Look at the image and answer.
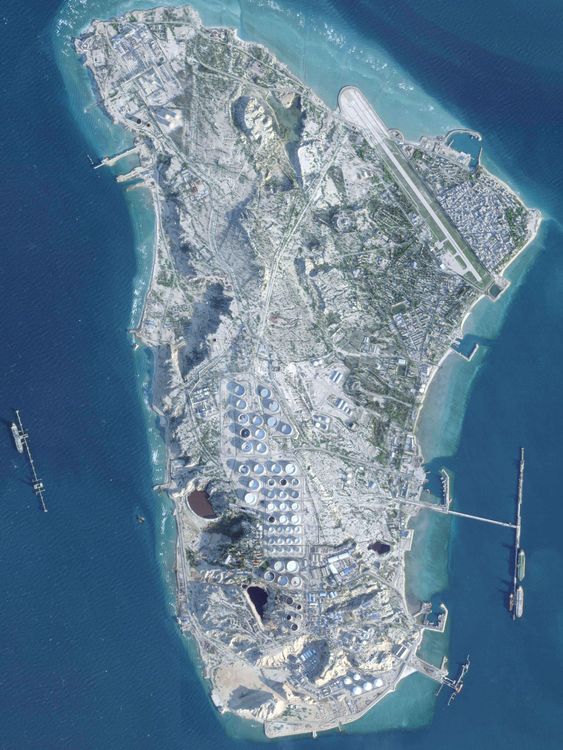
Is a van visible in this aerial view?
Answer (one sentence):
No, I can see no van in this picture.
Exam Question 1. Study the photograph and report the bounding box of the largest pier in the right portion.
[421,448,523,620]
